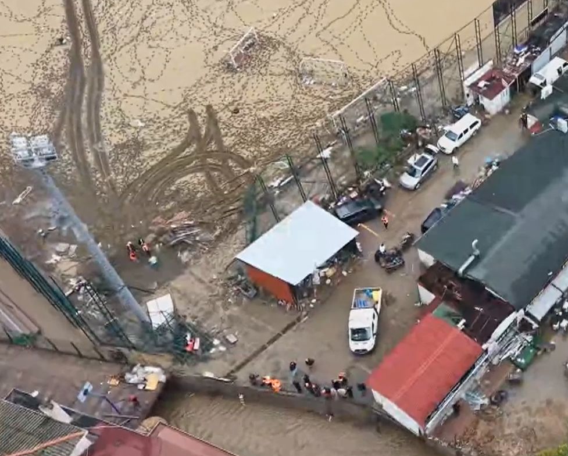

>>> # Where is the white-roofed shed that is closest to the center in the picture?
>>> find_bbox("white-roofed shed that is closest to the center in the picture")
[235,201,361,305]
